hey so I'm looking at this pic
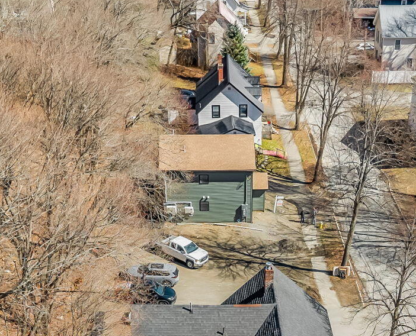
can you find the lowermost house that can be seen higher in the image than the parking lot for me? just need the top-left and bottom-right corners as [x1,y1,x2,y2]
[159,131,268,222]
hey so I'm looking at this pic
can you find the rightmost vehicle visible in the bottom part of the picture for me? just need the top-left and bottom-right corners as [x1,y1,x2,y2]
[154,228,211,269]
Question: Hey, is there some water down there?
No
